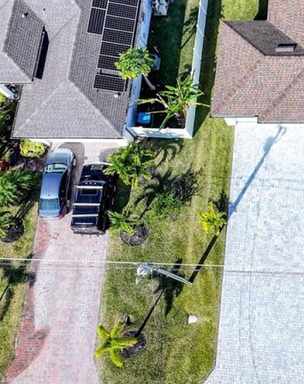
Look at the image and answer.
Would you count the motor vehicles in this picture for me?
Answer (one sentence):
The picture shows 2 motor vehicles.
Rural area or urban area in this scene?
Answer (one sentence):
The area shown here is urban.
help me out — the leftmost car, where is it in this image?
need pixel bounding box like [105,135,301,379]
[36,147,77,221]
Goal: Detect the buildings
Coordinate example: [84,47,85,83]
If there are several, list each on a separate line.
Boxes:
[211,0,304,132]
[0,0,156,148]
